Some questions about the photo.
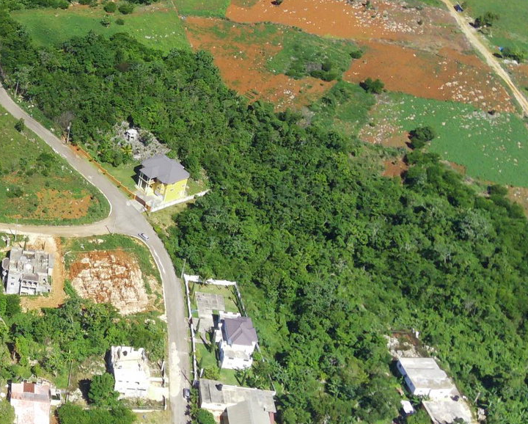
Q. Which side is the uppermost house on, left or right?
left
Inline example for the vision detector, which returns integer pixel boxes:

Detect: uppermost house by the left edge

[2,249,54,298]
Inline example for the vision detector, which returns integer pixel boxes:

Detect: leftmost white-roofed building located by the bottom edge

[10,382,50,424]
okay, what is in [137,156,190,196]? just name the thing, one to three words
house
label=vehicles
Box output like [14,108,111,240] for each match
[455,6,464,11]
[183,384,191,400]
[139,231,152,241]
